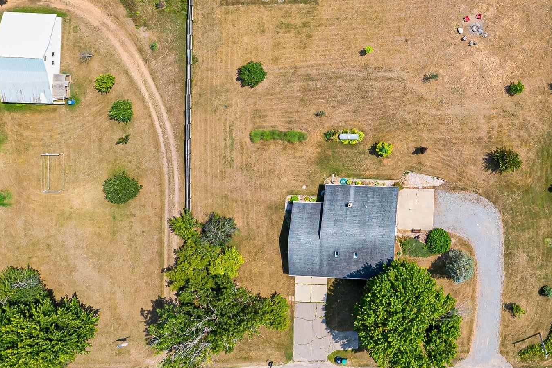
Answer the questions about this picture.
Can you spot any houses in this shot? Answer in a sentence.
Yes, there's a house here.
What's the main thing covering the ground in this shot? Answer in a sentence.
The bulk of the photo consists of grass.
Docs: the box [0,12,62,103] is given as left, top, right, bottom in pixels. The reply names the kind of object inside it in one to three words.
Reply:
barn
